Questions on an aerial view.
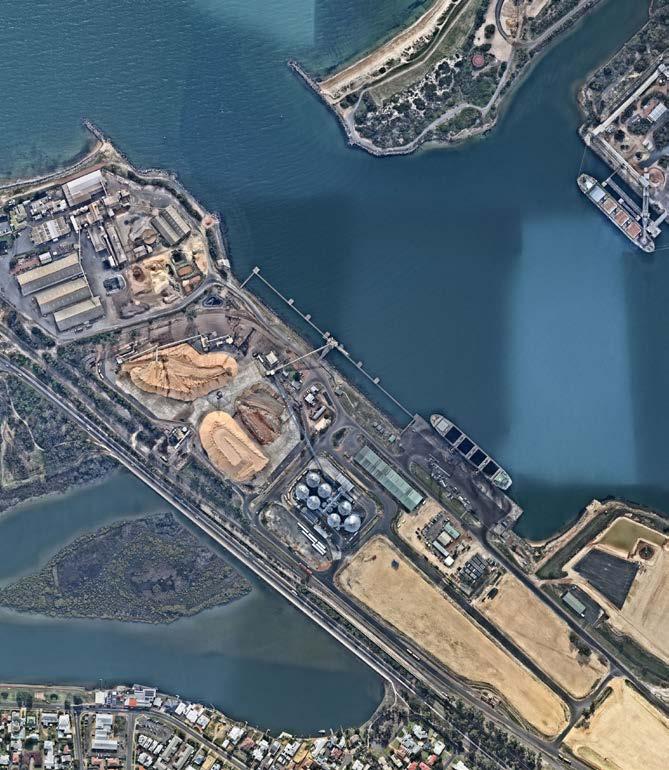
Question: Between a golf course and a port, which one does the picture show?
port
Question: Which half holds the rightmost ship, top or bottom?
top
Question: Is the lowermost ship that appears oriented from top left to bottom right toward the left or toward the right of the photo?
right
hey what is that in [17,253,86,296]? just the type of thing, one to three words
shed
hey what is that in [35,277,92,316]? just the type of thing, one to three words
shed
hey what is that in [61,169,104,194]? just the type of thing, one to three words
building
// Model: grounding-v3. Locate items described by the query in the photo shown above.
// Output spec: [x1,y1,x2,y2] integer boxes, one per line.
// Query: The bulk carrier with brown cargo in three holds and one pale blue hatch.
[576,173,654,251]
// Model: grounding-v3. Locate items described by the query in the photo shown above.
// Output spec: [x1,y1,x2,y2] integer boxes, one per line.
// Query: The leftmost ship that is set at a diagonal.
[431,416,515,490]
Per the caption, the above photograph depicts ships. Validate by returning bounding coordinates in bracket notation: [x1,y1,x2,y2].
[576,173,654,251]
[431,416,515,490]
